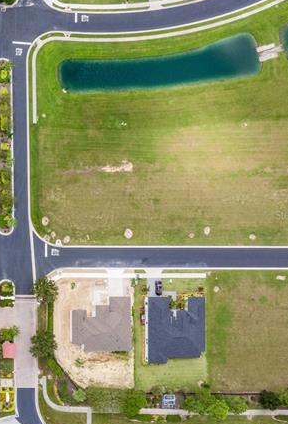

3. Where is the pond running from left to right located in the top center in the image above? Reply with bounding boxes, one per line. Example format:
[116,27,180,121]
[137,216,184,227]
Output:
[58,33,261,92]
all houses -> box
[70,296,131,352]
[144,296,206,363]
